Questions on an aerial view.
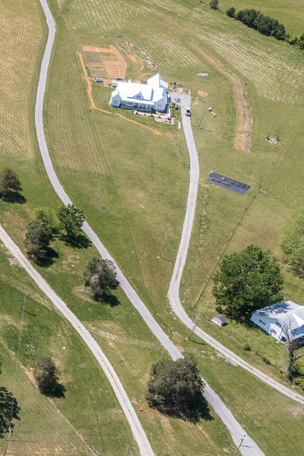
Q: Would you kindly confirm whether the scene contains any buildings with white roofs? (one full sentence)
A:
Yes, there's a building with a white roof here.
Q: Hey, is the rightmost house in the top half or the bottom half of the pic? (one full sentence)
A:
The rightmost house is in the bottom half of the image.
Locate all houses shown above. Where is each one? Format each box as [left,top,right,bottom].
[251,300,304,345]
[110,74,172,113]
